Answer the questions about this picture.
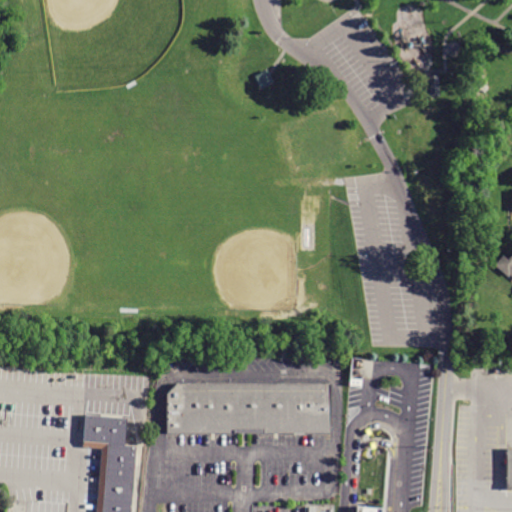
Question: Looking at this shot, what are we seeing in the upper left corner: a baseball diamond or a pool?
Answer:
baseball diamond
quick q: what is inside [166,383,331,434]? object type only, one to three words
building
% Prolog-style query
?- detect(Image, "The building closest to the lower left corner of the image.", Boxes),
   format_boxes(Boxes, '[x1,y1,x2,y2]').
[83,416,136,512]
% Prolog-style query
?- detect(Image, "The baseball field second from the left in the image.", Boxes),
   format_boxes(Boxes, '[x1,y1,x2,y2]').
[46,0,118,32]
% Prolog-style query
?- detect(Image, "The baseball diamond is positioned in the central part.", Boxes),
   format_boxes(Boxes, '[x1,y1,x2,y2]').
[213,228,297,310]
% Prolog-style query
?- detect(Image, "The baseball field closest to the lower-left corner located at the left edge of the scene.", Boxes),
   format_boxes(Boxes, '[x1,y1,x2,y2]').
[0,210,70,304]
